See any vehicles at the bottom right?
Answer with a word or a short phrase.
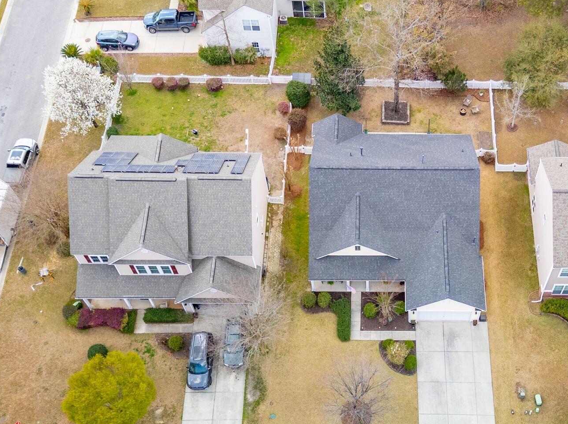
No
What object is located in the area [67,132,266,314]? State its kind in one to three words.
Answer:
house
